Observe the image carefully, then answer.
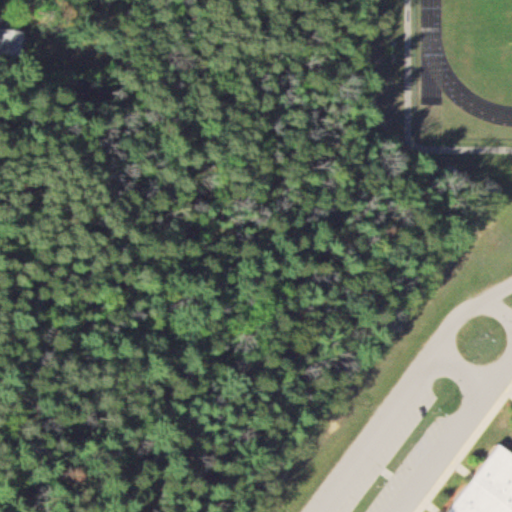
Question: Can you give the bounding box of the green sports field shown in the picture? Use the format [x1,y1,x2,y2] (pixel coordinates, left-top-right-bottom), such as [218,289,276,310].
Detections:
[442,0,512,107]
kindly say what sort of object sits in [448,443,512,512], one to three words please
building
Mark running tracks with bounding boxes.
[420,0,512,127]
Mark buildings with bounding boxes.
[448,443,512,512]
[0,30,26,56]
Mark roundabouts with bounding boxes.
[456,316,507,365]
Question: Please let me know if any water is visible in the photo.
No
